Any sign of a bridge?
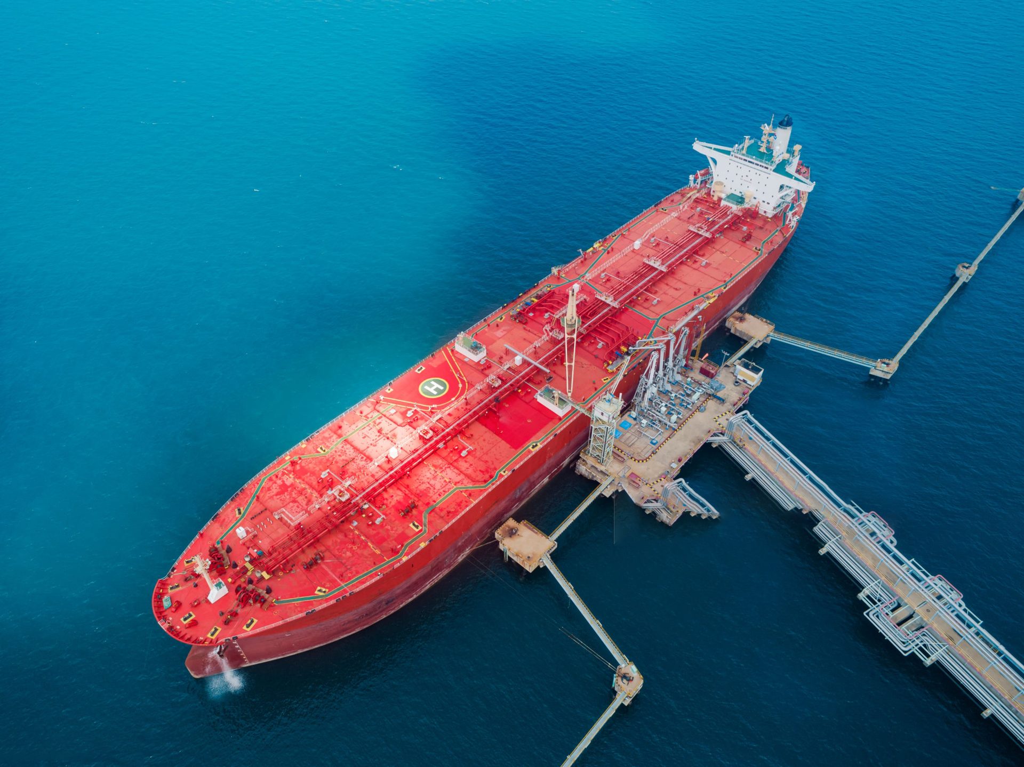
Yes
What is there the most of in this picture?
water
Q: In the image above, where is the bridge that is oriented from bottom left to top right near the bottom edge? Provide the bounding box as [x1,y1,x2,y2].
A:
[556,689,627,767]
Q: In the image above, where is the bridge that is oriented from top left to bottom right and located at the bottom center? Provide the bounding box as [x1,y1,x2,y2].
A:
[542,553,629,665]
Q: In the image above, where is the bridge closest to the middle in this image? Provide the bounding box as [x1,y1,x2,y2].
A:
[549,474,615,542]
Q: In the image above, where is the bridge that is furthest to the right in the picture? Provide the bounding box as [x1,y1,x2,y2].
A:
[970,197,1024,266]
